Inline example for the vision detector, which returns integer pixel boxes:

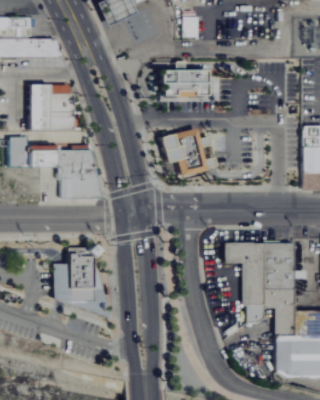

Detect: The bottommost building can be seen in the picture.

[272,335,320,376]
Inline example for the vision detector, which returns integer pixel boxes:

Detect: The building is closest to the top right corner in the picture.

[178,10,199,39]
